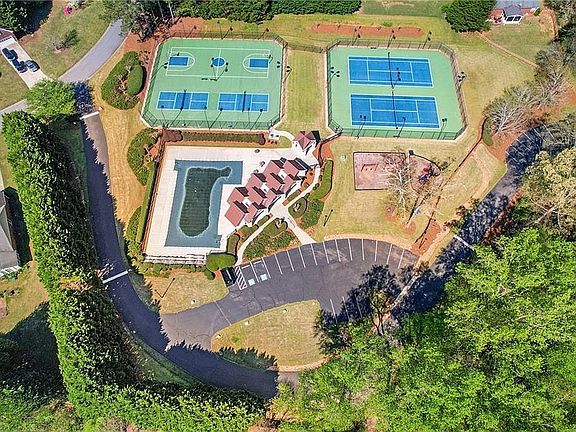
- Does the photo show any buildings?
Yes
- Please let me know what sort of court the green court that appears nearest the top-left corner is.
basketball court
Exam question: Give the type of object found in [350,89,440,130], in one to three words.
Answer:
tennis court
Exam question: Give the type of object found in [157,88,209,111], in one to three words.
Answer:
sports court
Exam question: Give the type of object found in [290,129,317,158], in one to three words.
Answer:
building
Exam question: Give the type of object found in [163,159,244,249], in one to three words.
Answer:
swimming pool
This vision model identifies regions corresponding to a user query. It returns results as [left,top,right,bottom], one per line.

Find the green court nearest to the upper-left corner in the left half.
[138,37,286,132]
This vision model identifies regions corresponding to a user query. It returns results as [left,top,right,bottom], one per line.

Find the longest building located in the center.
[225,158,309,229]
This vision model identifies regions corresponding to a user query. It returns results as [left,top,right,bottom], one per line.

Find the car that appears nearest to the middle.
[220,266,238,287]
